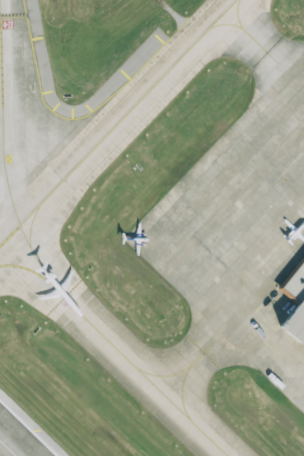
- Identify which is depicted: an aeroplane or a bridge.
aeroplane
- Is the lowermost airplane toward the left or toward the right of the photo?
left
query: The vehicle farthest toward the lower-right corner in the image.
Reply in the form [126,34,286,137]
[268,372,286,390]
